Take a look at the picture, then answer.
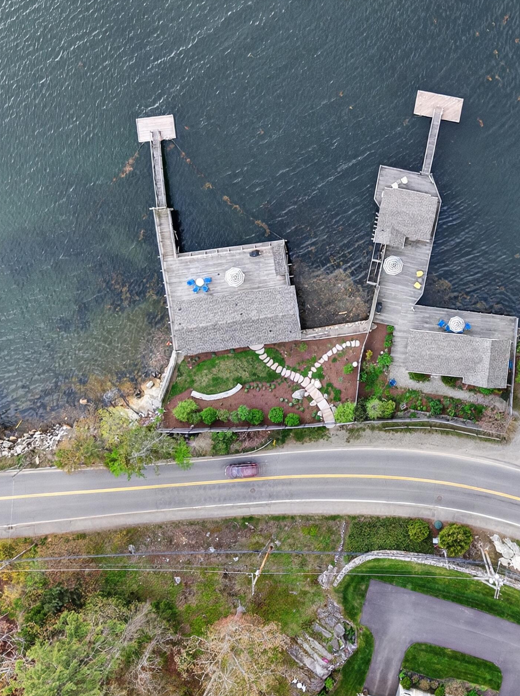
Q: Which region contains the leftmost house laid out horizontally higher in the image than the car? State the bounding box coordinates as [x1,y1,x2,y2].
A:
[172,285,302,354]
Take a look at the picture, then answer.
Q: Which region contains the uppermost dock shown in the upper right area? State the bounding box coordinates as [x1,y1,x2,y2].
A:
[413,90,465,123]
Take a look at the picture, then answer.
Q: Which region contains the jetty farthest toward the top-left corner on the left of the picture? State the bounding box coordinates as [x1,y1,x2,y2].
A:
[135,113,176,144]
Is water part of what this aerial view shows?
Yes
